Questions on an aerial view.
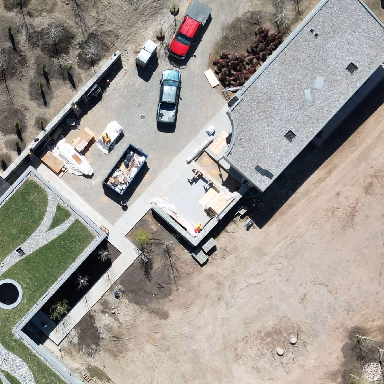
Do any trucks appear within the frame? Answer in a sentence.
Yes, this view includes a truck.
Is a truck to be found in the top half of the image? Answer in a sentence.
Yes, looking in the top half of the image, one can make out a truck.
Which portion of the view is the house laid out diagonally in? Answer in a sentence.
You can find the house laid out diagonally in the top right area of the picture.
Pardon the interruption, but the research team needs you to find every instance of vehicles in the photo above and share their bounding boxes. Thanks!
[168,0,211,62]
[156,67,183,127]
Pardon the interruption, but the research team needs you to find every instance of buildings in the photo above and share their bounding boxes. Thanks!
[221,0,384,192]
[0,166,105,384]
